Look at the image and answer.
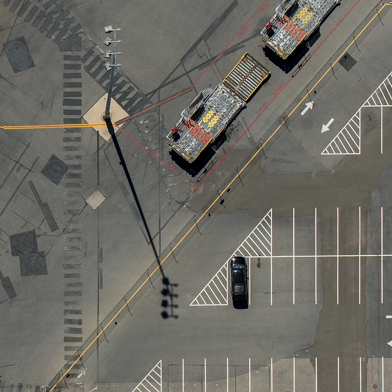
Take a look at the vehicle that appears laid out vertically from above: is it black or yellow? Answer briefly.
black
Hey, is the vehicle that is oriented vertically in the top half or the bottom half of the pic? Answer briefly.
bottom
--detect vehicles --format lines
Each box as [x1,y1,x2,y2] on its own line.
[262,0,343,60]
[229,257,249,301]
[167,57,273,165]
